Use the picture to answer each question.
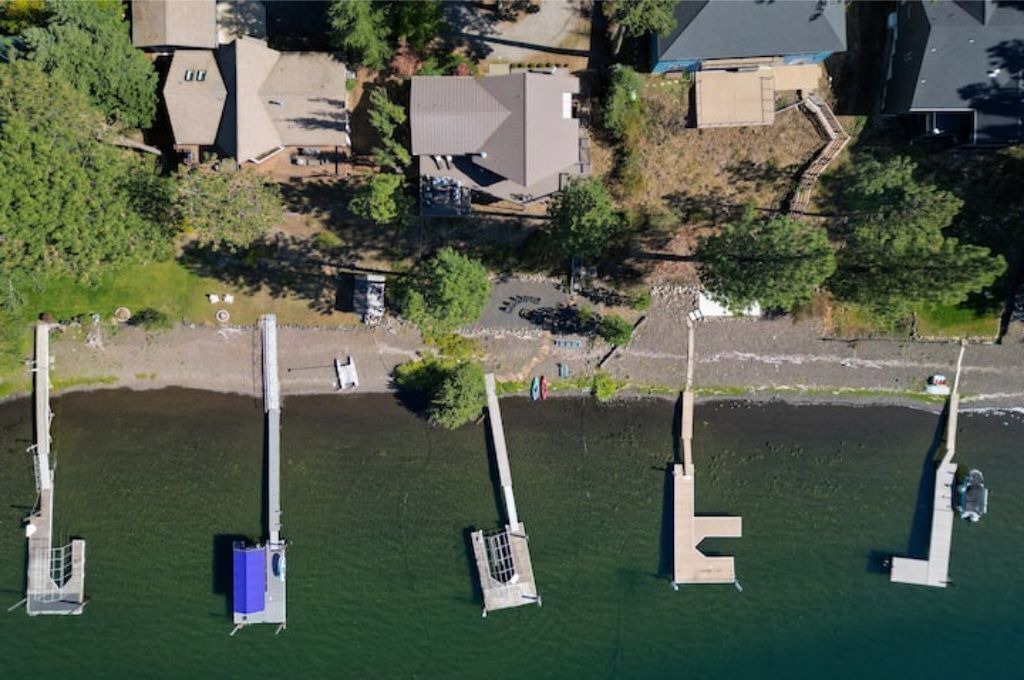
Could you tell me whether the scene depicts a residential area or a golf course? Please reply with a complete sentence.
The picture captures a residential area.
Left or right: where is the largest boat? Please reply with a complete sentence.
You can find the largest boat on the right side of the picture.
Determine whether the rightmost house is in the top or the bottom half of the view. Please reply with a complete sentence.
The rightmost house sits in the top half of the picture.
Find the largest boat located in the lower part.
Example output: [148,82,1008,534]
[955,468,989,525]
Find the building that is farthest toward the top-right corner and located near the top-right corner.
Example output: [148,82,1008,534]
[883,0,1024,150]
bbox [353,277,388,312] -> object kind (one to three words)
shed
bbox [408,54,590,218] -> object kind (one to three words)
house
